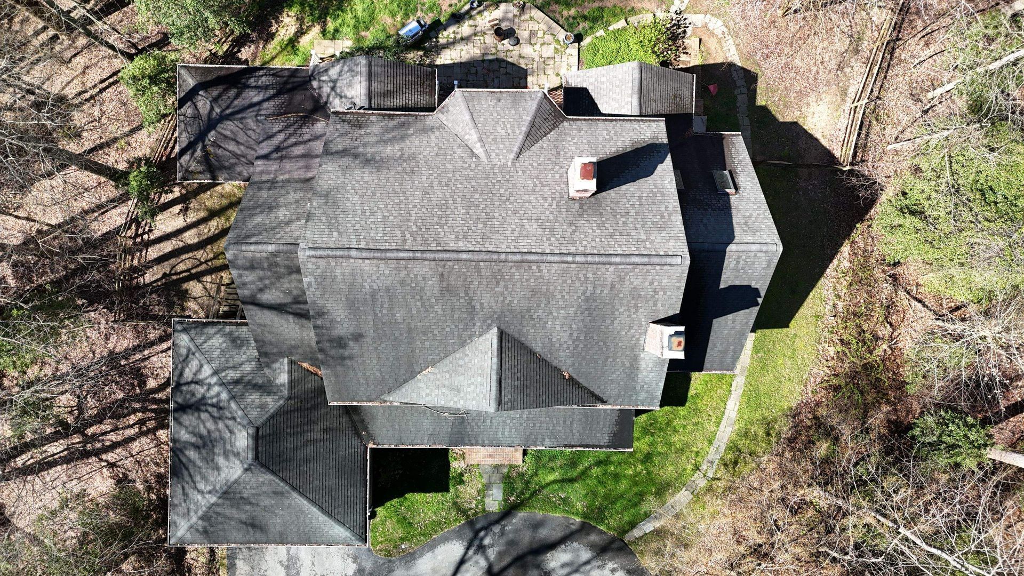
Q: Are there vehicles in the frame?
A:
No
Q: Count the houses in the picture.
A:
one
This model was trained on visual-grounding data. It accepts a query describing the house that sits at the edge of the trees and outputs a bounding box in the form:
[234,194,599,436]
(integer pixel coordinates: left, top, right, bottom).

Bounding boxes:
[170,56,782,549]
